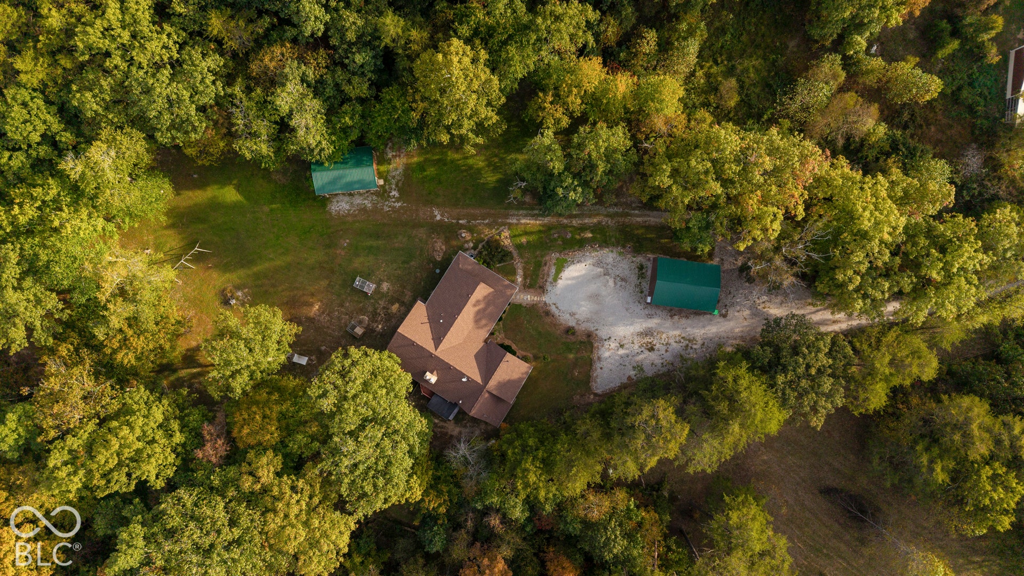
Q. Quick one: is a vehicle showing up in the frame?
No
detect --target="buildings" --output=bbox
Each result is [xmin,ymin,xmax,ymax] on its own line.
[649,257,721,312]
[309,145,381,196]
[1005,42,1024,126]
[381,251,533,428]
